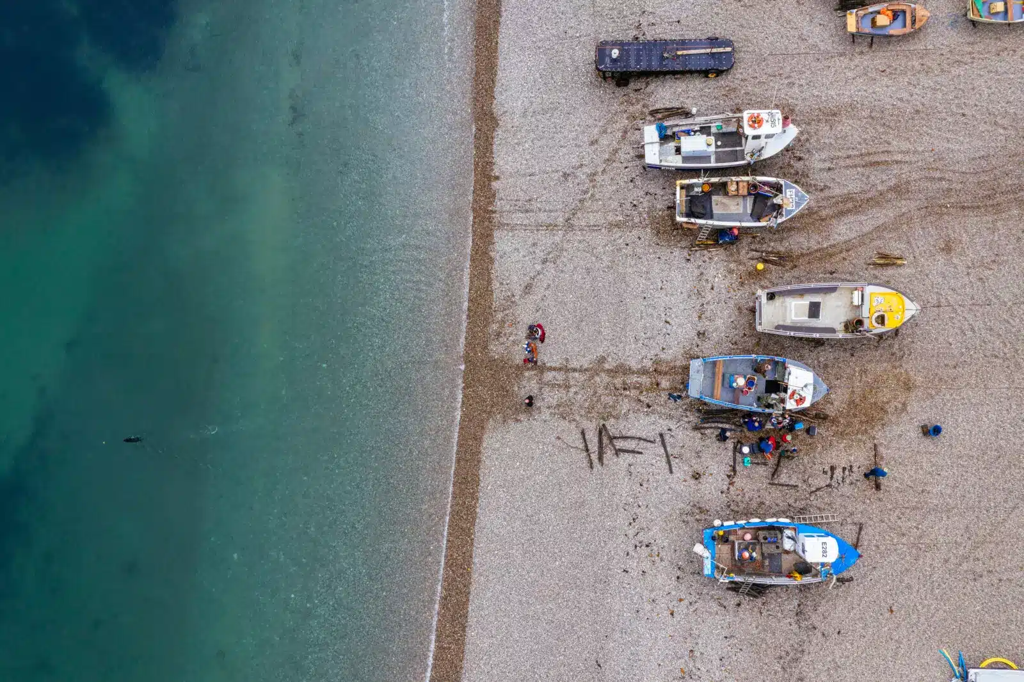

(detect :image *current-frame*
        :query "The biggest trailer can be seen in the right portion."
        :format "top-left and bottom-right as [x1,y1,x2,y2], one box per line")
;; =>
[595,35,734,86]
